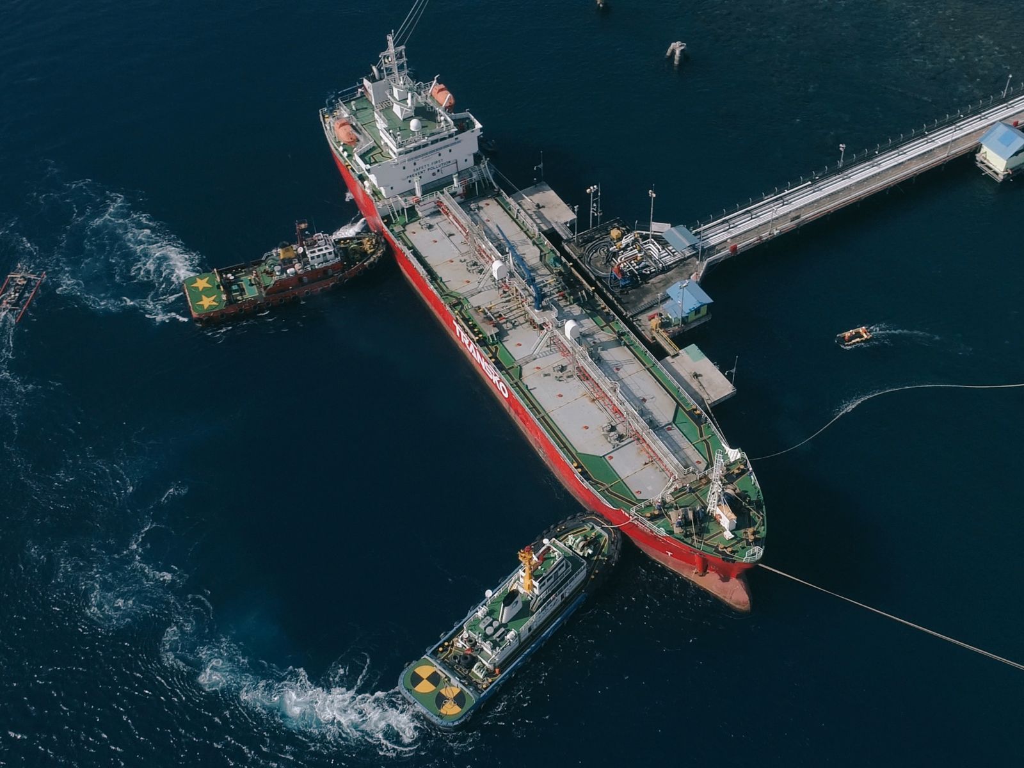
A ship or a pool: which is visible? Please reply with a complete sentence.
This aerial view contains a ship.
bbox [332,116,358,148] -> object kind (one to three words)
boat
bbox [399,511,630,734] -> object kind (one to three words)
boat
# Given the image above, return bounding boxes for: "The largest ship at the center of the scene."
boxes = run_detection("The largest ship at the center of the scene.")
[321,25,763,611]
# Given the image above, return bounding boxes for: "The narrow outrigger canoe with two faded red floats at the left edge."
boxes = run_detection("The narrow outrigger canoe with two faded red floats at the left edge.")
[0,268,48,320]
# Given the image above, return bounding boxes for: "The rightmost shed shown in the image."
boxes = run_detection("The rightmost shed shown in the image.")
[966,123,1024,192]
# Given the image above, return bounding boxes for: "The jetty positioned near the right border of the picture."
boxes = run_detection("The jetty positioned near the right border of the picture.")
[689,84,1024,268]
